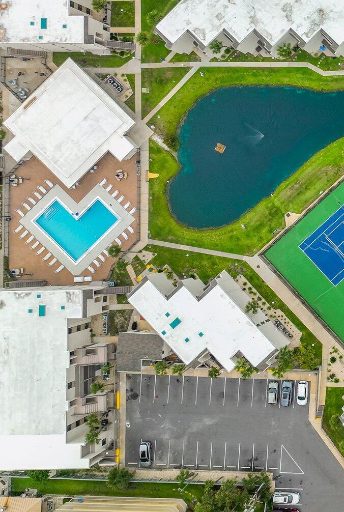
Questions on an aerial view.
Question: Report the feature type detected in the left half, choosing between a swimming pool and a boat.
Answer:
swimming pool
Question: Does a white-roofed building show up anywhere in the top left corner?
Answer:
Yes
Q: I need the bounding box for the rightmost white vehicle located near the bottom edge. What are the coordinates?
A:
[275,491,299,504]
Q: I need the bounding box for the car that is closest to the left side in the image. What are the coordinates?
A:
[139,441,153,465]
